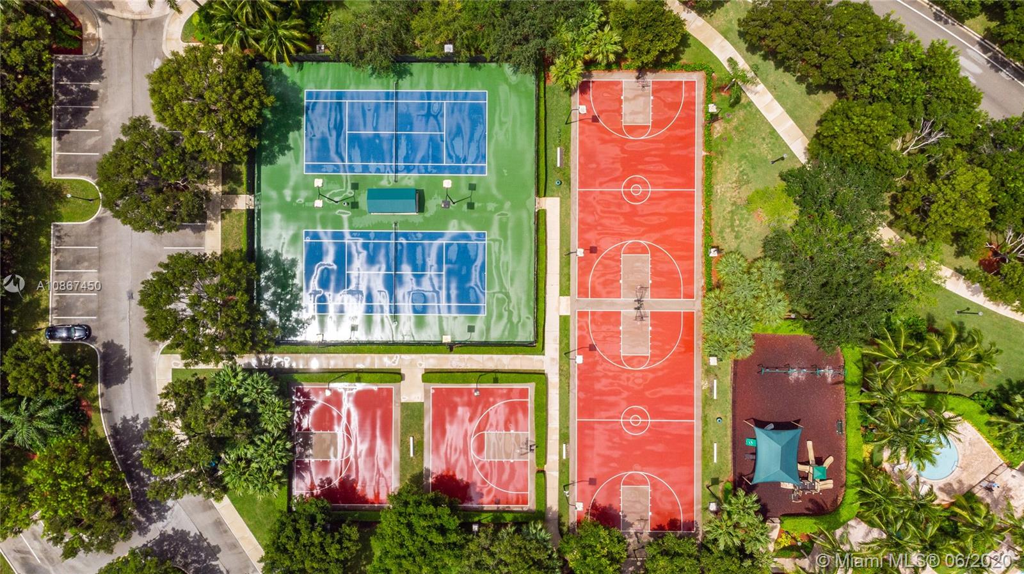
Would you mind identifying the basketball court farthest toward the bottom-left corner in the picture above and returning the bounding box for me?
[293,383,401,507]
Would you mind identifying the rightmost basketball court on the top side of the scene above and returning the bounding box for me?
[568,72,702,305]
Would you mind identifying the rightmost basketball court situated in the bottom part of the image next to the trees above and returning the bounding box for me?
[567,304,702,539]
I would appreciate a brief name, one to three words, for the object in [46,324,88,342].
car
